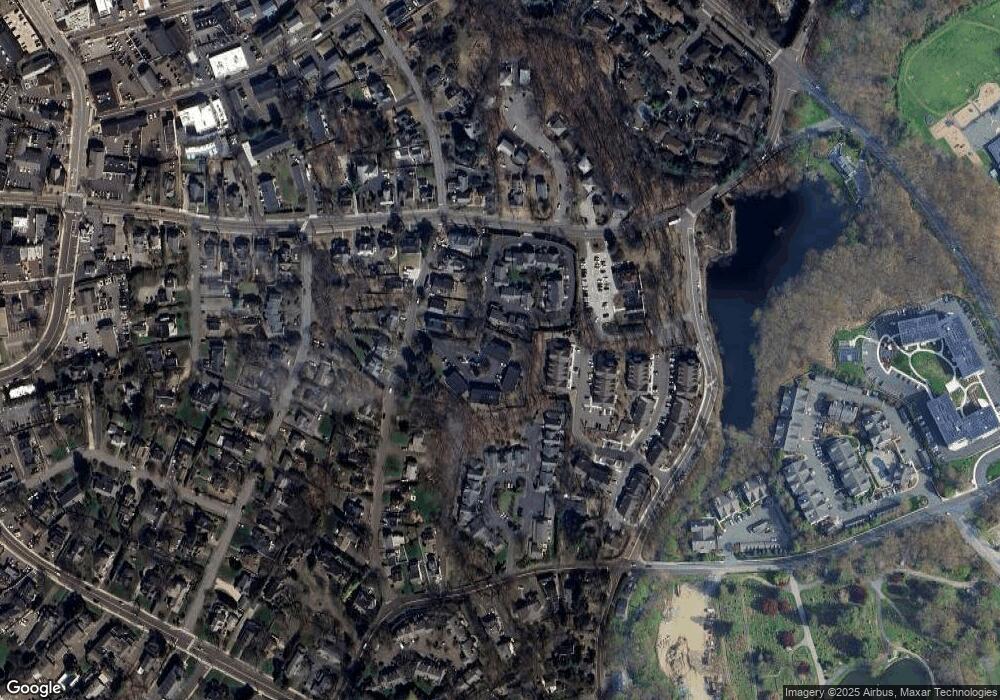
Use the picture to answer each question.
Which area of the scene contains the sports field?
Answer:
top right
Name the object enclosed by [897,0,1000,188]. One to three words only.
sports field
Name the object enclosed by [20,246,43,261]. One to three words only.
building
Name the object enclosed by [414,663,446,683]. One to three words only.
house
